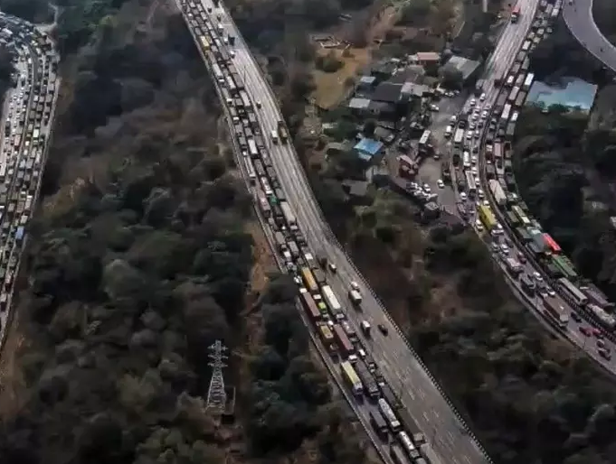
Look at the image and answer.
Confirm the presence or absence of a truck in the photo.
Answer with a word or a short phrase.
Yes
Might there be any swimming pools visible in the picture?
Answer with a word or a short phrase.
No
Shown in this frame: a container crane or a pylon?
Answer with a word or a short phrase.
pylon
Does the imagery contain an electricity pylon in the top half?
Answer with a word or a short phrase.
No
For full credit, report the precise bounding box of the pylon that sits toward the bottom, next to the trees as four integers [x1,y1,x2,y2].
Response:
[203,338,238,419]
